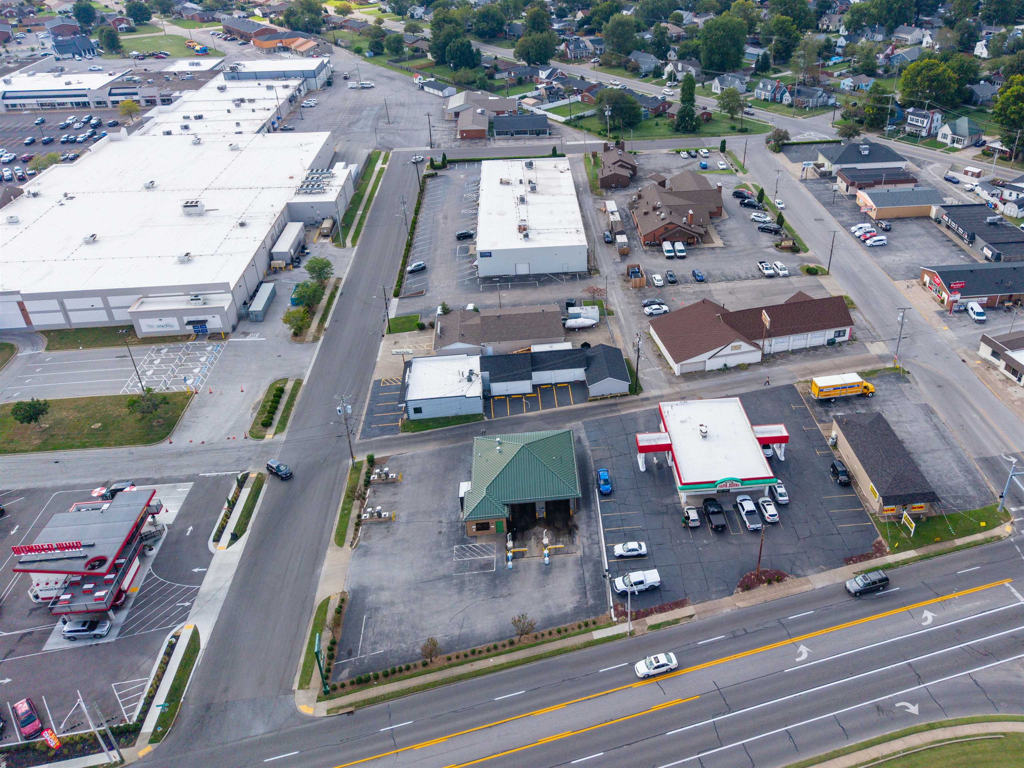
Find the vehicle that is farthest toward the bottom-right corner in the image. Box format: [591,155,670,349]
[842,566,893,596]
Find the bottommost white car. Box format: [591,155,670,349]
[632,651,680,679]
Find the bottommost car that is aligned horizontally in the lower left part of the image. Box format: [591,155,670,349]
[63,619,110,641]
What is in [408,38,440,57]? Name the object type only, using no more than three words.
house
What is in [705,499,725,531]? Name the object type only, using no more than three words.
vehicle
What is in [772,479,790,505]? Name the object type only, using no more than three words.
car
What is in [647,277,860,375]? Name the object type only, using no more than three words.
building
